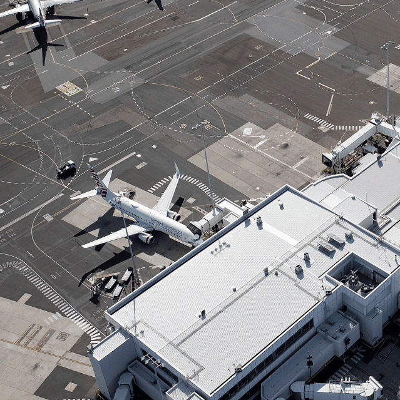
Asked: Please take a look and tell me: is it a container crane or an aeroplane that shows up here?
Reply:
aeroplane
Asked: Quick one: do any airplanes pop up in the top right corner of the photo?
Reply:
No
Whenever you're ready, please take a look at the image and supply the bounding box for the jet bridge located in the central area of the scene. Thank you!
[188,204,232,238]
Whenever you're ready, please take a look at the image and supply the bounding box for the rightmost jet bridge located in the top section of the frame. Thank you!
[321,120,400,169]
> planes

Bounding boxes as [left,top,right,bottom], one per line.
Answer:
[0,0,87,28]
[72,162,205,249]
